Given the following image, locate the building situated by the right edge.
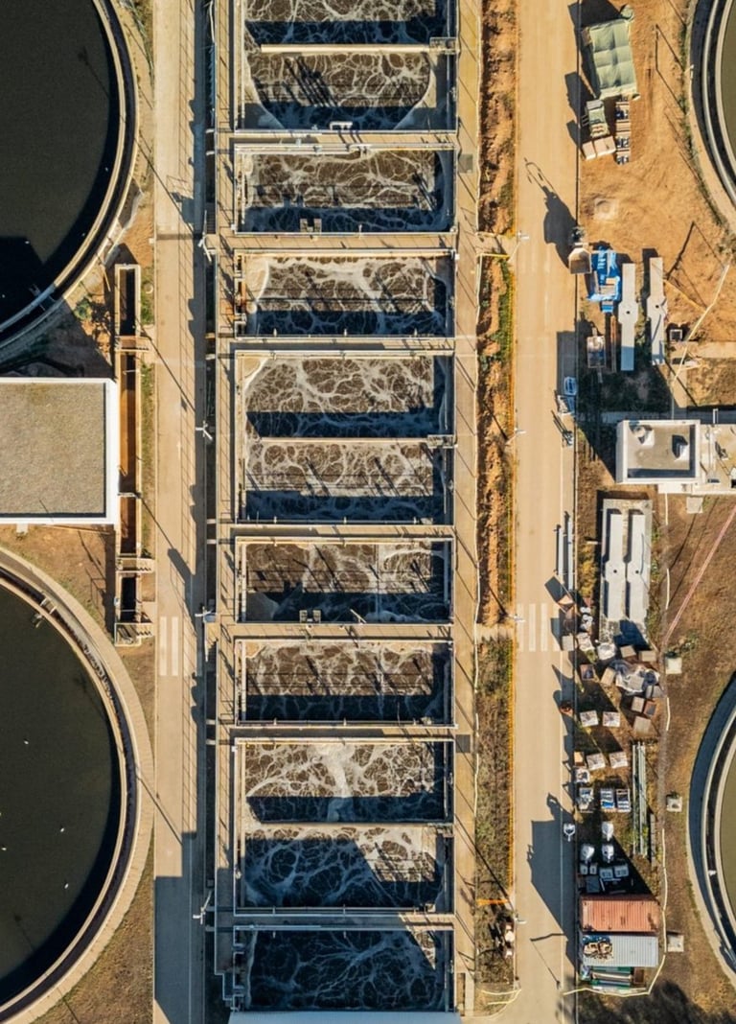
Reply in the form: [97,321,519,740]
[617,420,701,493]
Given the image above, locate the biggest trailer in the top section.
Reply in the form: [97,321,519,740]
[587,328,605,382]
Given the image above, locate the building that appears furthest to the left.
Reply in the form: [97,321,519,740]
[0,374,116,534]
